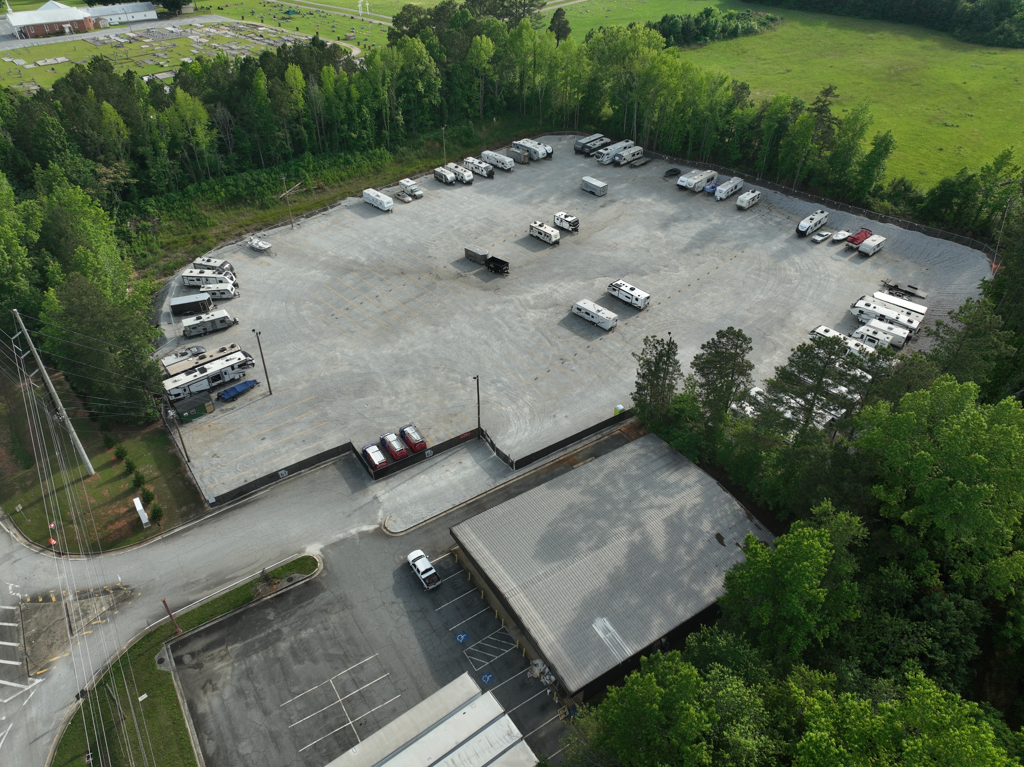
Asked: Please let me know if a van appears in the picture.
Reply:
Yes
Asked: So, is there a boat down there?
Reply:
Yes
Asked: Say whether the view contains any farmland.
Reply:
No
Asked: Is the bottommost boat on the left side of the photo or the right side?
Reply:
left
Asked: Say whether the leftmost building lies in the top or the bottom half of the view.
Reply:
top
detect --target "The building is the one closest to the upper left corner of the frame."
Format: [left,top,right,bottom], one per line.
[3,0,91,39]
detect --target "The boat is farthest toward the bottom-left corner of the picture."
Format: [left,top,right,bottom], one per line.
[217,378,263,401]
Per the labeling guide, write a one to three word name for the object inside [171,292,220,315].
trailer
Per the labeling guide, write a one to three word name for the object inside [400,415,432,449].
van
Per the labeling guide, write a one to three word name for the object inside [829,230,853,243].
boat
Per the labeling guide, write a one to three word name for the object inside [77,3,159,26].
building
